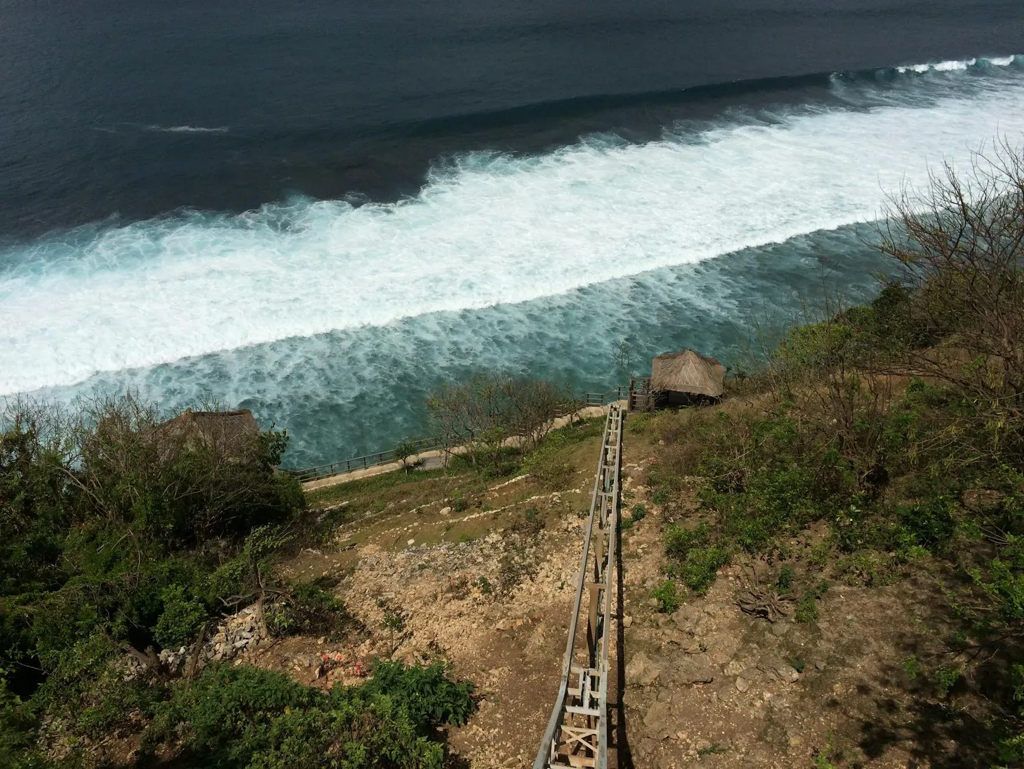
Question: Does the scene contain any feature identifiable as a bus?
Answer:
No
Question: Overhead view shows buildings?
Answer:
Yes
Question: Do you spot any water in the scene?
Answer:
Yes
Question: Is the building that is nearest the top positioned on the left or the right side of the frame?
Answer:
right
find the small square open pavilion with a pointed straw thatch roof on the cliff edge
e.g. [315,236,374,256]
[654,348,732,414]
